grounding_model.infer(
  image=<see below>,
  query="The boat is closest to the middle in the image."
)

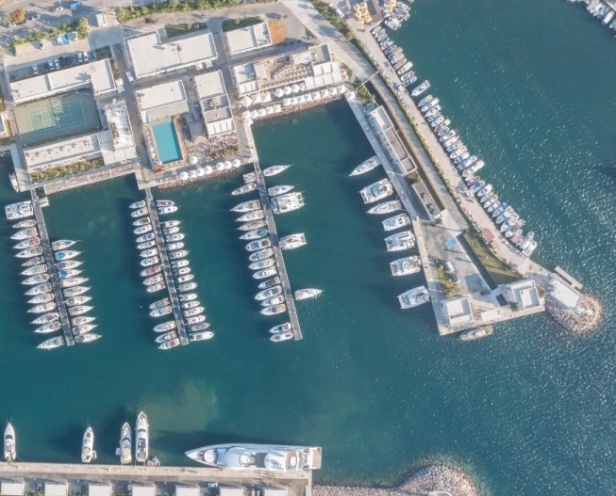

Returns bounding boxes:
[278,234,306,250]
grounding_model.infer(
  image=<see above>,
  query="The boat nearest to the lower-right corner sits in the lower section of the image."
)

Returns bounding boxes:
[459,322,495,340]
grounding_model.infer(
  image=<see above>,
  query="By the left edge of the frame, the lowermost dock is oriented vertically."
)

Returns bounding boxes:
[29,188,74,345]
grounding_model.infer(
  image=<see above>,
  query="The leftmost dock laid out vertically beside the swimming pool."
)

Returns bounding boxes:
[144,187,188,344]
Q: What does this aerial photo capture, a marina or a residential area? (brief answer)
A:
marina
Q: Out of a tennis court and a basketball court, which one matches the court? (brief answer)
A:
tennis court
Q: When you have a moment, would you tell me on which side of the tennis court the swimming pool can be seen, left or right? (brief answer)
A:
right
